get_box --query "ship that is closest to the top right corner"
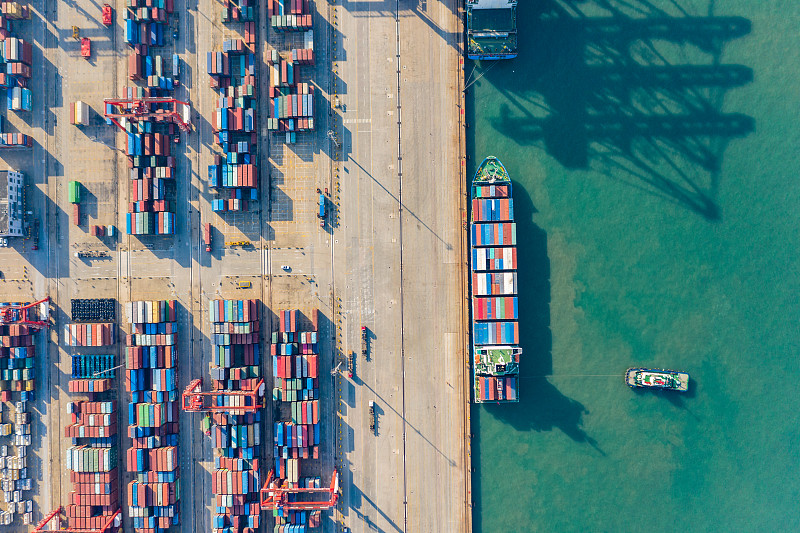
[468,0,517,60]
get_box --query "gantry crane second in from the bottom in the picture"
[260,467,338,511]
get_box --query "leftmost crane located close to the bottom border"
[33,505,120,533]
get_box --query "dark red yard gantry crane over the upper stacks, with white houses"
[105,95,191,134]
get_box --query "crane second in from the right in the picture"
[184,376,265,413]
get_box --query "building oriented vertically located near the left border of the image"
[0,170,28,236]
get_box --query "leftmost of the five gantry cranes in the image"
[0,295,48,328]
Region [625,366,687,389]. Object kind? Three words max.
boat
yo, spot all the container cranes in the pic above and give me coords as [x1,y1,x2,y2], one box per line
[33,505,120,533]
[184,376,265,413]
[260,467,338,511]
[0,295,48,328]
[105,95,191,134]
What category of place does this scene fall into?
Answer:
port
